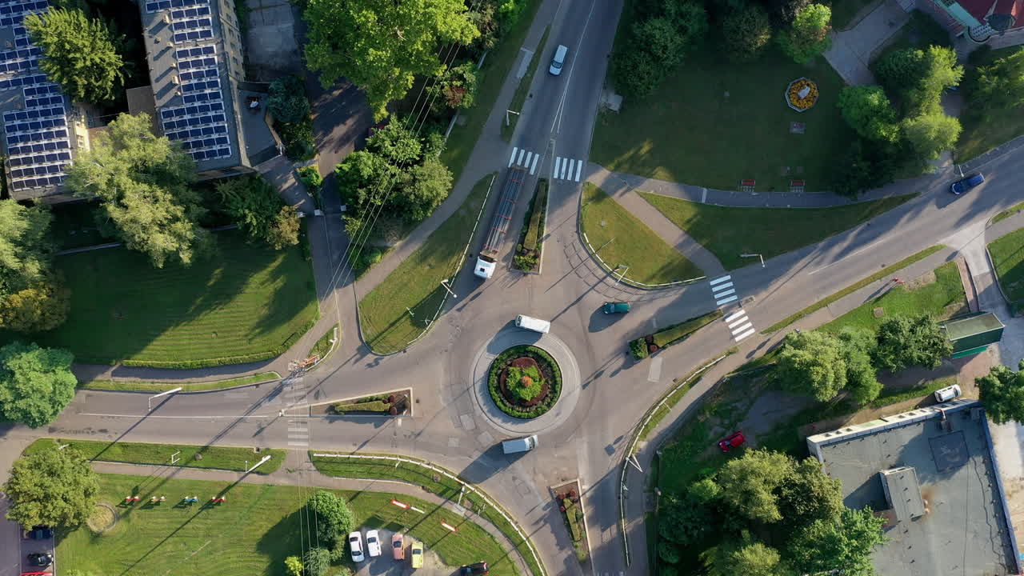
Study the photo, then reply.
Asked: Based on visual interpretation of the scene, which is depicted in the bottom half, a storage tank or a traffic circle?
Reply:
traffic circle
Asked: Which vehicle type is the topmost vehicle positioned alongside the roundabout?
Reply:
truck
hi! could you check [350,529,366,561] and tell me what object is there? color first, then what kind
white car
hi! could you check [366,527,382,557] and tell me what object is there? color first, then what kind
white car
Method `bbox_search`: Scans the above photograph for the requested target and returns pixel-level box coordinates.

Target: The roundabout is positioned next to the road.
[470,326,581,436]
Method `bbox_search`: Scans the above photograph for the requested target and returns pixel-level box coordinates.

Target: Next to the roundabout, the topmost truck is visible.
[470,163,528,276]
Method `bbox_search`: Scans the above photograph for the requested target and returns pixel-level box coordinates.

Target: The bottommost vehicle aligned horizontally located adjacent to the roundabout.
[503,434,540,455]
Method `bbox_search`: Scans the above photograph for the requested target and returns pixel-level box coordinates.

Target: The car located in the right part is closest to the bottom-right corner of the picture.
[931,383,960,402]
